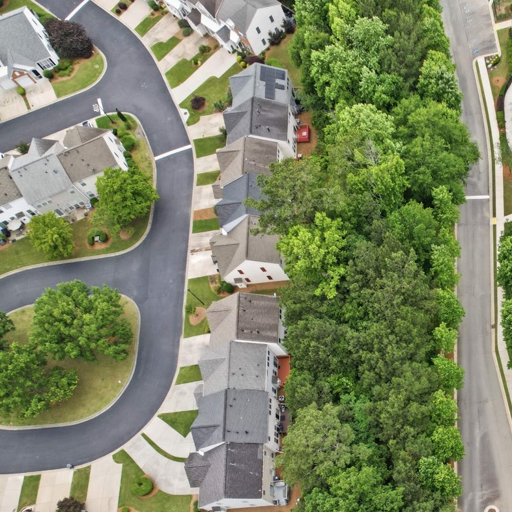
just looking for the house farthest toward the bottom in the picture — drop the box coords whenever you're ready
[179,443,279,512]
